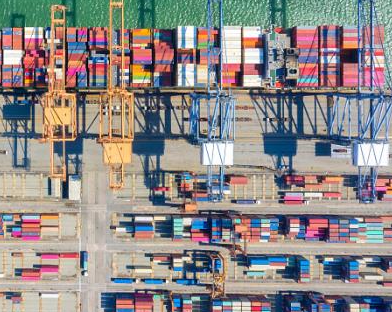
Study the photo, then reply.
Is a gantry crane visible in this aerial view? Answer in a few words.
Yes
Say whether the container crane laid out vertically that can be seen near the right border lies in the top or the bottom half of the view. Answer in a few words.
top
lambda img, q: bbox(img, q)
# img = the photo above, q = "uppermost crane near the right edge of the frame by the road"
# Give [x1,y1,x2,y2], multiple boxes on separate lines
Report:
[302,0,392,203]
